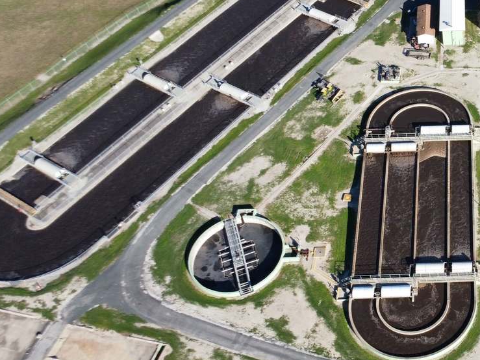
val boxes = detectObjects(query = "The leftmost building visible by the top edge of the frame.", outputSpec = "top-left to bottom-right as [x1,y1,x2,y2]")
[416,3,437,47]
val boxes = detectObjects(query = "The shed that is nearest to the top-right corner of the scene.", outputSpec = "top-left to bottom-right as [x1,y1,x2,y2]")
[439,0,467,46]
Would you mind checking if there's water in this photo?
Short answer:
Yes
